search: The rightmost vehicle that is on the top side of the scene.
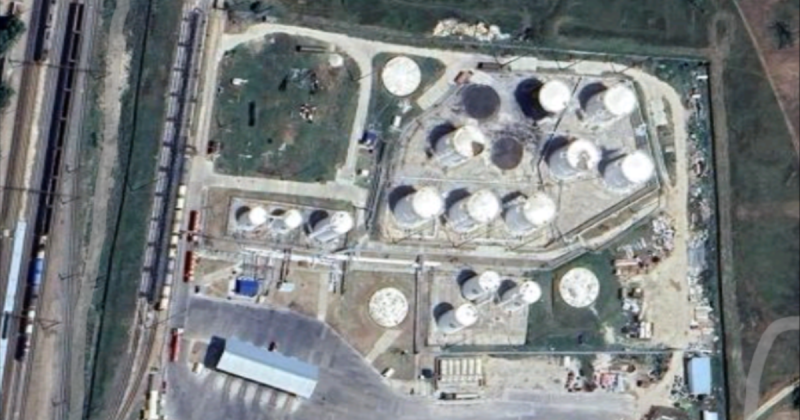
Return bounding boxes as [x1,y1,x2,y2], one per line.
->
[455,70,473,86]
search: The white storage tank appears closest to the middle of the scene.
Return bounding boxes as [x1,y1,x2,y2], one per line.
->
[393,187,444,233]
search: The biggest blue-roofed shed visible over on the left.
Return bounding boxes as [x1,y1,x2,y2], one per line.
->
[237,278,259,297]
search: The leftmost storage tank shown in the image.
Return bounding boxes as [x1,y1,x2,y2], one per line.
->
[237,206,268,237]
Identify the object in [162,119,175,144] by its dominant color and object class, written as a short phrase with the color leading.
gray rail car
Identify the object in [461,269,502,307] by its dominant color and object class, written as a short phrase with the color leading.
white storage tank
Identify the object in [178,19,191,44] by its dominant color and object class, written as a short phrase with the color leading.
gray rail car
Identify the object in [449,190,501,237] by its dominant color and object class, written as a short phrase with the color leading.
white storage tank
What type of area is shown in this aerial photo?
industrial area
